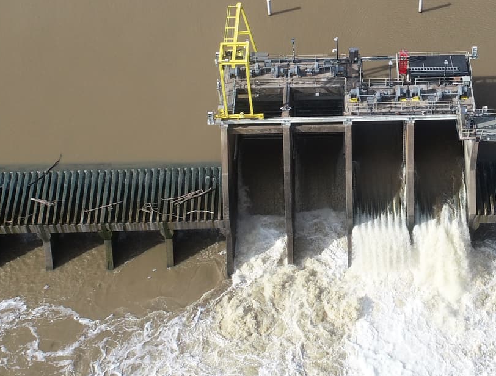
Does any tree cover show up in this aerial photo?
No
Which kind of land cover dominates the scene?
water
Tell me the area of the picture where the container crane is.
top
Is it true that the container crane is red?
No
